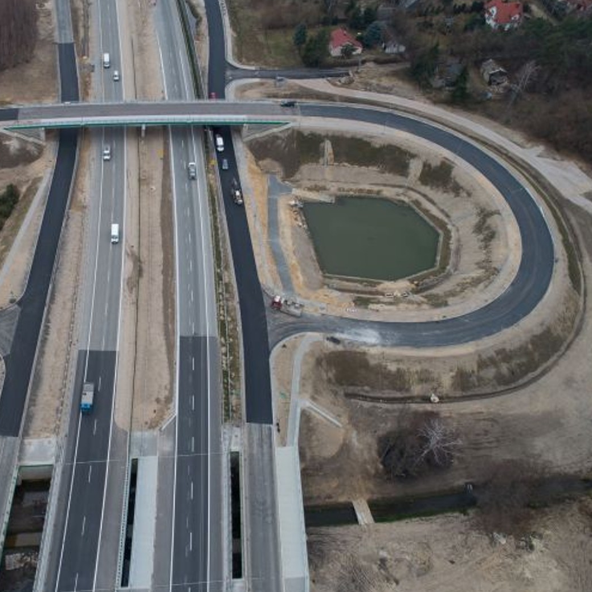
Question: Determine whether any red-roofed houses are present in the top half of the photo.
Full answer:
Yes, looking in the top half of the photo, one can make out a red-roofed house.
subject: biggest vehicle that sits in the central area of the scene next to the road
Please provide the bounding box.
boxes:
[268,296,305,315]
